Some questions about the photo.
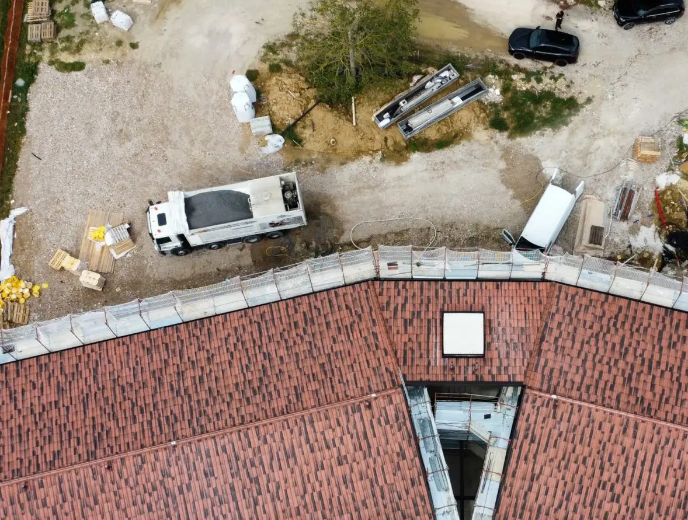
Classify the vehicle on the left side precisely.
truck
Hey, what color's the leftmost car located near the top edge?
black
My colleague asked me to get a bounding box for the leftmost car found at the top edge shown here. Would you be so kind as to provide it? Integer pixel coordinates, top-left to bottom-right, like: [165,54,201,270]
[506,24,582,67]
